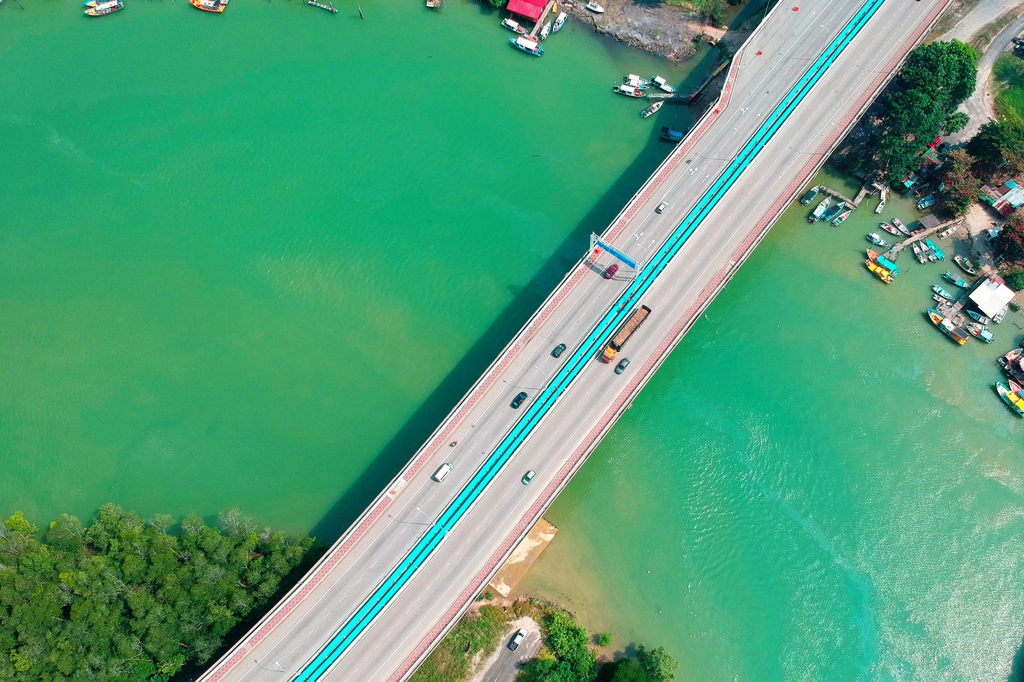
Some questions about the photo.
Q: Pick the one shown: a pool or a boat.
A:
boat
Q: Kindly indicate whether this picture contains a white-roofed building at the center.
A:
No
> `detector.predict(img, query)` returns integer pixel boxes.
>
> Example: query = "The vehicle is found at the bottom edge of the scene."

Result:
[508,629,526,652]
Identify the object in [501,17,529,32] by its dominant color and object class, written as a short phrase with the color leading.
white boat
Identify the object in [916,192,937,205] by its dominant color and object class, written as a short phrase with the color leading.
blue boat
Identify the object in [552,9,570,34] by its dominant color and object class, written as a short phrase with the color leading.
white boat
